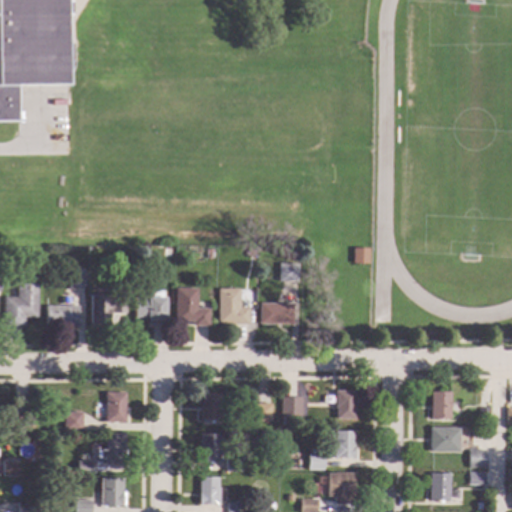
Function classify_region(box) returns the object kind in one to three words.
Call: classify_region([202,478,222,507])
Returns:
house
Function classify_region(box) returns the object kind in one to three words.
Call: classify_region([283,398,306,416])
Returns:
building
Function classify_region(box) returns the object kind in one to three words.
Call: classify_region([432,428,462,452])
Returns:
house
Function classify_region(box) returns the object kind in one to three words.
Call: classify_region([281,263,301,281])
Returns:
building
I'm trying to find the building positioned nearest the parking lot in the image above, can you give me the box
[0,0,75,122]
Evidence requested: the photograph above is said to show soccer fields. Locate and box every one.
[404,1,512,257]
